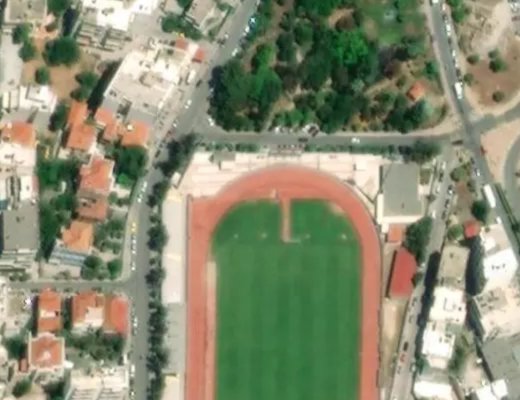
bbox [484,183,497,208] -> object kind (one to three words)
vehicle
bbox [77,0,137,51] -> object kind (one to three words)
building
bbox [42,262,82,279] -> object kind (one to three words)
house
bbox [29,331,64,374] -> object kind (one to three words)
house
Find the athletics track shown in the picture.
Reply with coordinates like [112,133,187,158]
[188,168,381,400]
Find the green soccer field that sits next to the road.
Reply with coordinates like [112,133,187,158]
[213,201,362,400]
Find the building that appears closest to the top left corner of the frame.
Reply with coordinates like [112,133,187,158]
[5,0,47,29]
